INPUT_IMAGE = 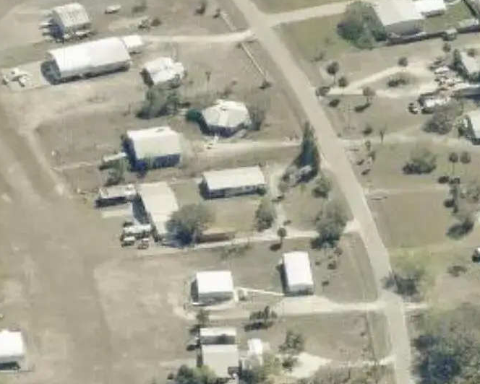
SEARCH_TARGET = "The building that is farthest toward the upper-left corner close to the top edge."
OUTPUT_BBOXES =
[52,3,89,33]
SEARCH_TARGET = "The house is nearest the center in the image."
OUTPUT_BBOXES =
[204,167,265,196]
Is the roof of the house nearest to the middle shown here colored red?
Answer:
No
